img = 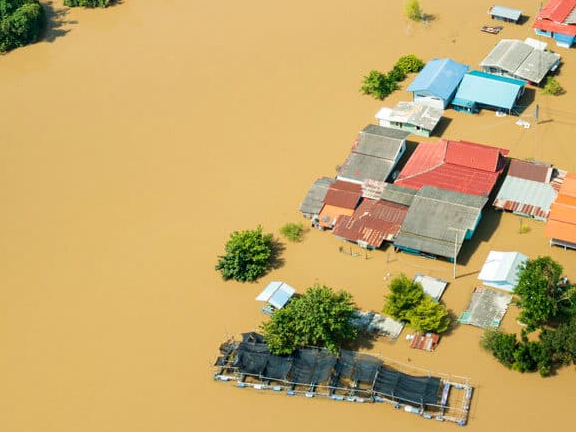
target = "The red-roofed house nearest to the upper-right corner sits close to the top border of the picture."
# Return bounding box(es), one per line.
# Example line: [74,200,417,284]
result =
[533,0,576,48]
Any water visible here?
Yes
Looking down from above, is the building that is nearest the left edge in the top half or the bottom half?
bottom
